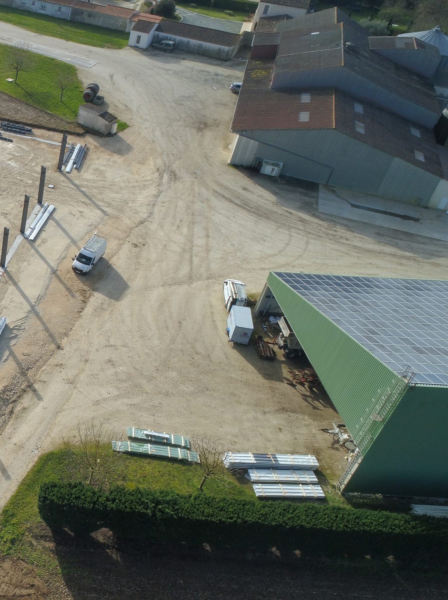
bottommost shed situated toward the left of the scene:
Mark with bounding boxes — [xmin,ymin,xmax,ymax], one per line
[78,101,124,135]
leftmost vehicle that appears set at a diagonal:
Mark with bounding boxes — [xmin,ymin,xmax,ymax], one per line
[74,234,111,274]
